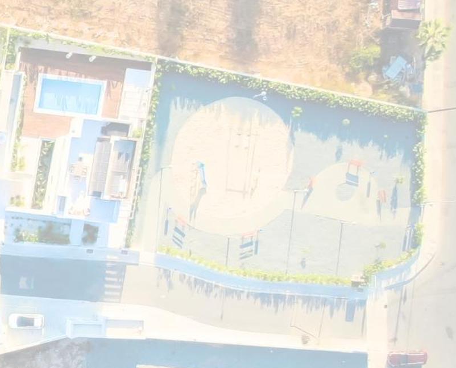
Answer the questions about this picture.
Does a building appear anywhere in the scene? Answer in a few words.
Yes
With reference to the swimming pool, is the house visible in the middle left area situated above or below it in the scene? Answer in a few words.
below it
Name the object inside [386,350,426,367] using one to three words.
vehicle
